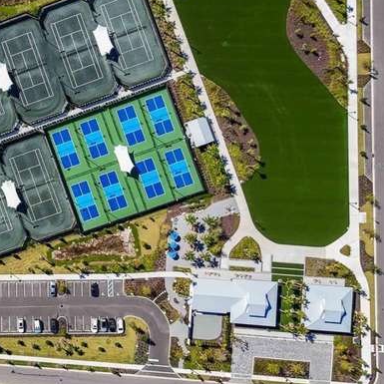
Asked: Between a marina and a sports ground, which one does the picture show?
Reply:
sports ground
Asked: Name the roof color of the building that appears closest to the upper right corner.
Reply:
white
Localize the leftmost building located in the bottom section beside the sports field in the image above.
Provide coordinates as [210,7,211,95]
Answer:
[192,276,279,328]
